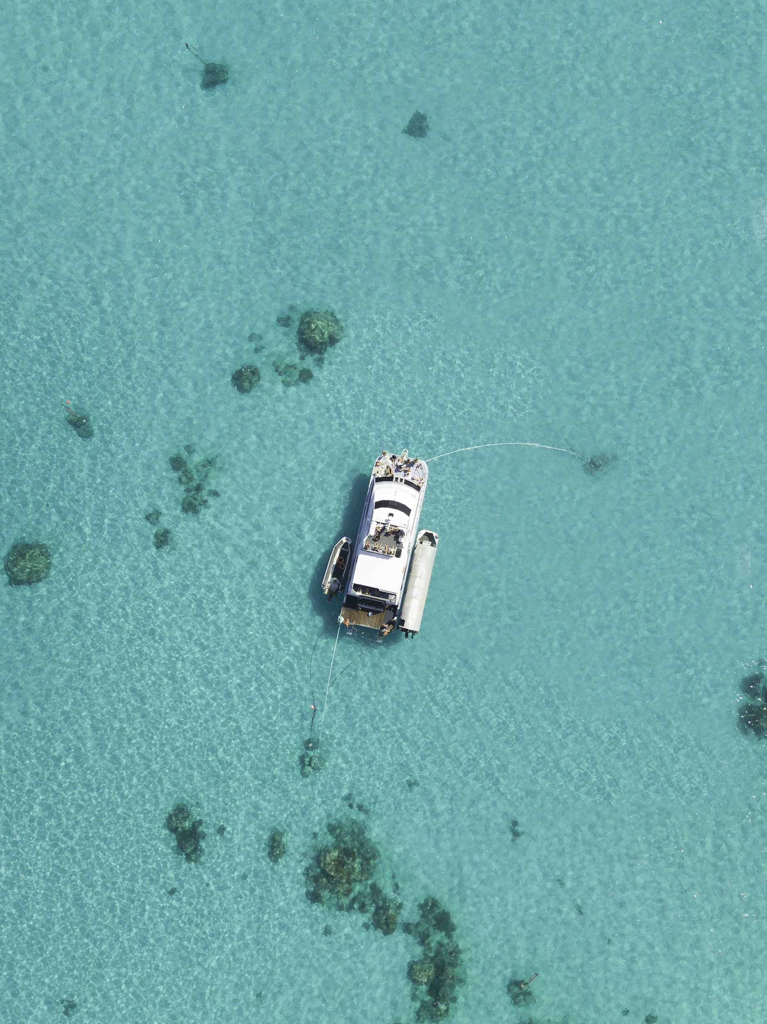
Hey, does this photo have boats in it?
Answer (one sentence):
Yes, I can see a boat in this picture.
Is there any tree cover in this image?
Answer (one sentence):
No, the scene doesn't show any tree cover.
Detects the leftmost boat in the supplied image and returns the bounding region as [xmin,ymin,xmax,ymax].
[322,537,354,601]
